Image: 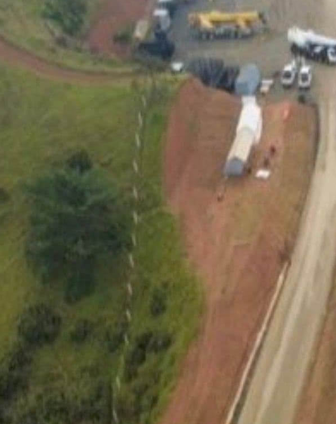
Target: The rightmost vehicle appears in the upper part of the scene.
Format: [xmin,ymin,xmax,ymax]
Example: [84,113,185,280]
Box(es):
[294,66,315,88]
